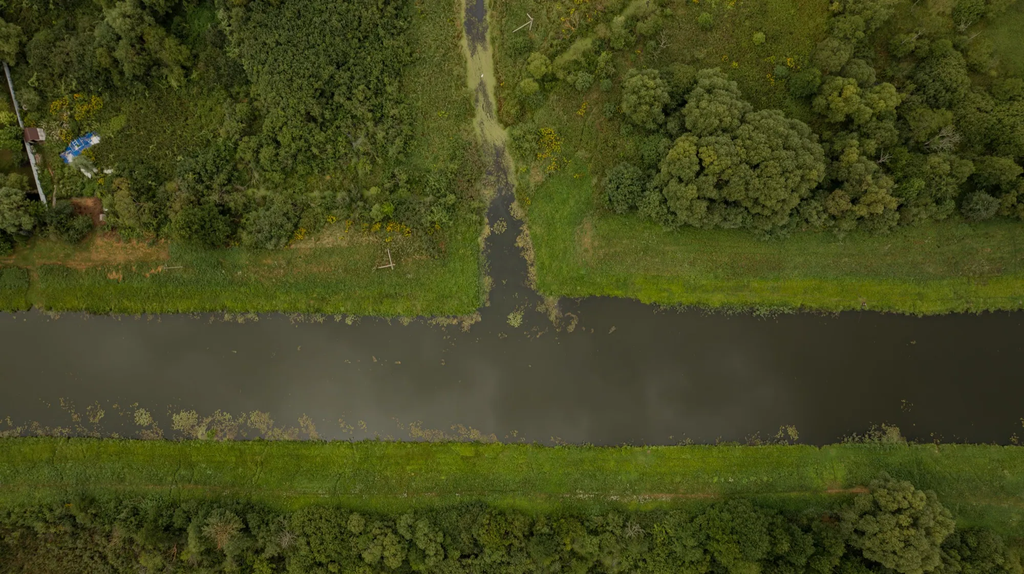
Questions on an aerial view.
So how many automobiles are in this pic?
0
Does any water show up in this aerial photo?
Yes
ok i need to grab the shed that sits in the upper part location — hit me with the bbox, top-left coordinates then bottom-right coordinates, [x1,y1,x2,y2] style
[22,127,53,145]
